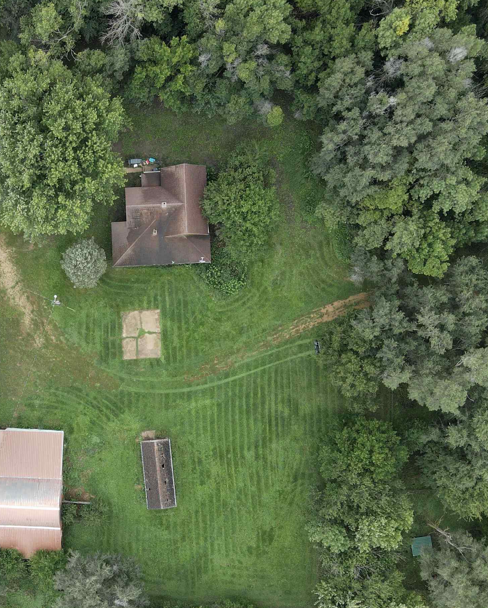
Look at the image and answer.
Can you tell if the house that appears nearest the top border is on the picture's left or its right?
left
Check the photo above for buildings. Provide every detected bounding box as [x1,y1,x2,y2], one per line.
[414,538,436,560]
[111,164,210,268]
[140,438,176,510]
[0,425,66,561]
